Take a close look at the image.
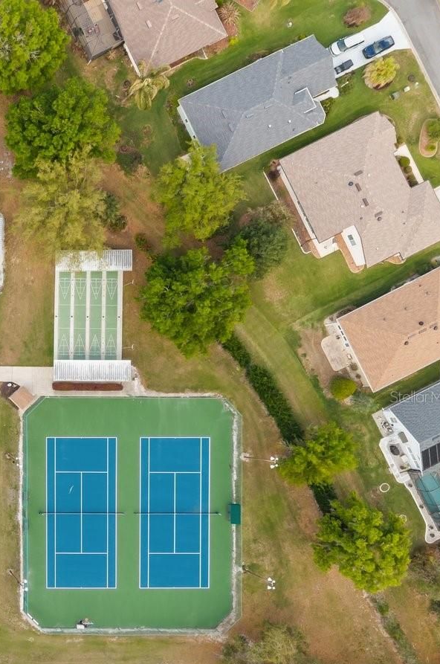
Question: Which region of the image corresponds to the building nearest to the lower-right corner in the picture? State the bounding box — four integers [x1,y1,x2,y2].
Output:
[372,378,440,471]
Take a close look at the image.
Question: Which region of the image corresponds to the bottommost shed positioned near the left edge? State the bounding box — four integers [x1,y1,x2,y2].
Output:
[7,386,36,410]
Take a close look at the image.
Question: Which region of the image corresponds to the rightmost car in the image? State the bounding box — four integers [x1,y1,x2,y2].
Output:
[361,36,395,59]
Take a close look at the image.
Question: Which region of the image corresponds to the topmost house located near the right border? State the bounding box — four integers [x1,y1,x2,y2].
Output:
[273,112,440,269]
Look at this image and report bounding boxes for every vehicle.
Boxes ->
[336,59,353,76]
[361,36,395,59]
[329,31,366,57]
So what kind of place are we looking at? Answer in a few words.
residential area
